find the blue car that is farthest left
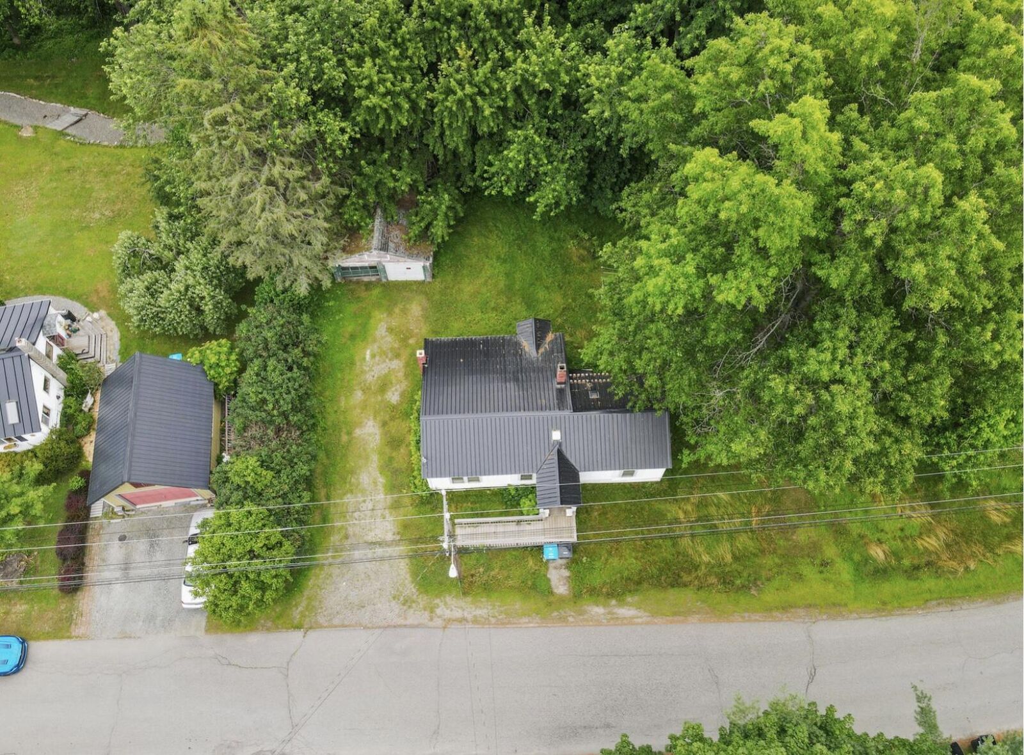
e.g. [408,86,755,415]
[0,633,33,678]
